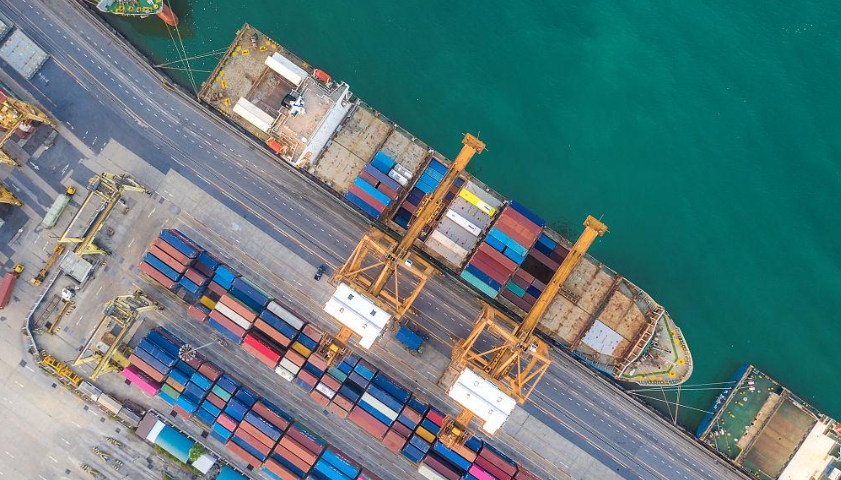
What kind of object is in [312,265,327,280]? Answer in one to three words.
vehicle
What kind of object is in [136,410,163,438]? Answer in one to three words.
building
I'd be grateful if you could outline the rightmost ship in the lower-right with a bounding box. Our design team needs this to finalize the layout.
[700,367,841,480]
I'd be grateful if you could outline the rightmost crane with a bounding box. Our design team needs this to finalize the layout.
[439,219,609,455]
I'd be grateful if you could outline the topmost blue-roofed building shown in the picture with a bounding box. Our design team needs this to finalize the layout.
[157,422,199,461]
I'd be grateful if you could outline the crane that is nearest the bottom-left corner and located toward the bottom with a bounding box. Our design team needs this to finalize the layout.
[69,291,168,385]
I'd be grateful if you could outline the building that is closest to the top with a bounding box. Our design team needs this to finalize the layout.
[59,252,99,283]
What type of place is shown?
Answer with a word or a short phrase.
port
